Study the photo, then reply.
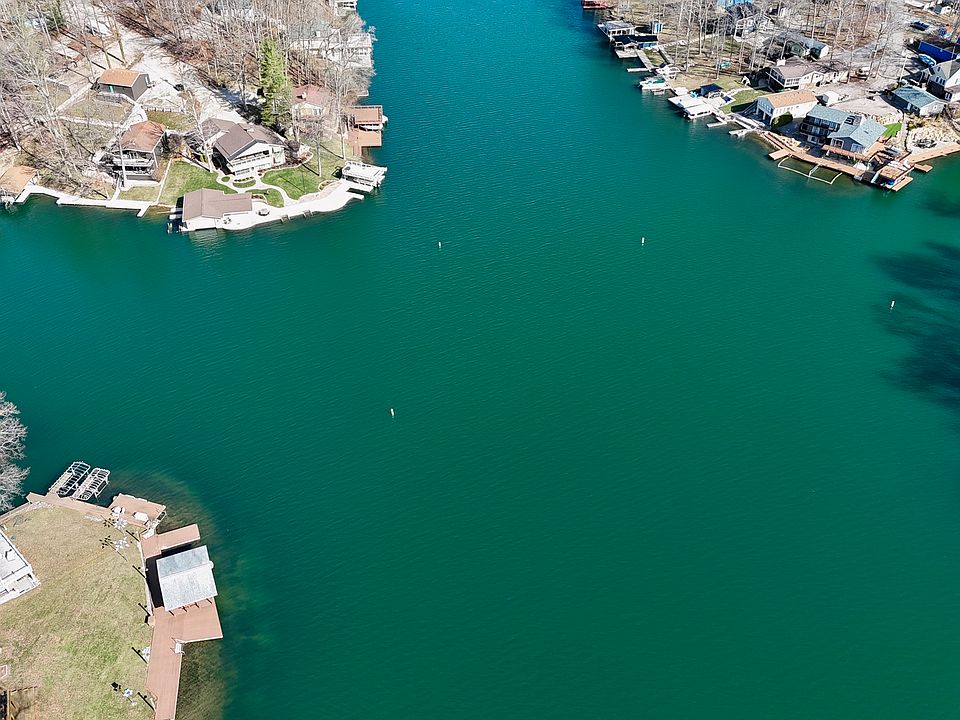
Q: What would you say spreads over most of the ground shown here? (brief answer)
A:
water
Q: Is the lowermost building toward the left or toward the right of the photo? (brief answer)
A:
left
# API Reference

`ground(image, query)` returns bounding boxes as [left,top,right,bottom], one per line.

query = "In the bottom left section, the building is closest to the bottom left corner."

[153,544,220,622]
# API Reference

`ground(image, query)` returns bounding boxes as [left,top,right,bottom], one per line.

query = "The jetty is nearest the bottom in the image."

[143,596,224,720]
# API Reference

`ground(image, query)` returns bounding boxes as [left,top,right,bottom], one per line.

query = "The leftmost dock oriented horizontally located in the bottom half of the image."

[25,492,110,520]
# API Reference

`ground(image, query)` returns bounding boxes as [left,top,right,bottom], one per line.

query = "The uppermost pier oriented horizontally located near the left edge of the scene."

[32,184,158,222]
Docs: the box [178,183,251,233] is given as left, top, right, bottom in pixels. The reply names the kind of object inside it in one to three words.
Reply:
building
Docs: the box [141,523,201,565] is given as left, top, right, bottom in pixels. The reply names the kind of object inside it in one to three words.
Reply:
pier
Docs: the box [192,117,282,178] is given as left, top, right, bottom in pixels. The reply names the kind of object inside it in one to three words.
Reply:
house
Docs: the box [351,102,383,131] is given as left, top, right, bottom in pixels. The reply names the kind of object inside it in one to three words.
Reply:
building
